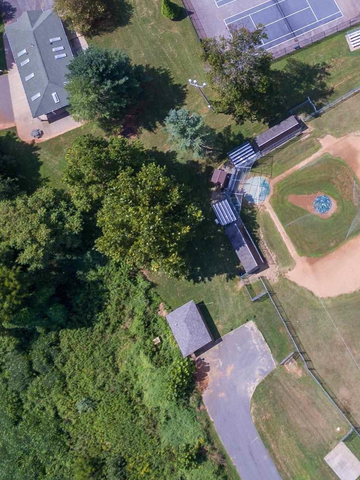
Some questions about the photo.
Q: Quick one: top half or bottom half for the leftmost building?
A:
top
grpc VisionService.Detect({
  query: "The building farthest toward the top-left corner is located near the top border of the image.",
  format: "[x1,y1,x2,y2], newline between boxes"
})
[5,9,82,121]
